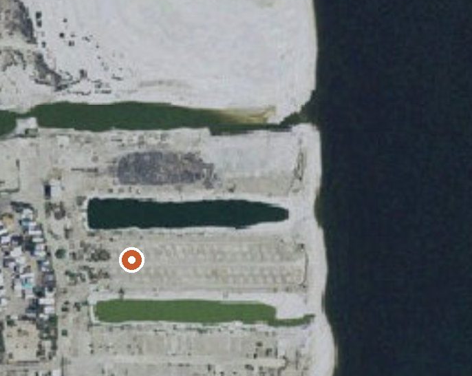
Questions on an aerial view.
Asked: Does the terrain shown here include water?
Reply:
Yes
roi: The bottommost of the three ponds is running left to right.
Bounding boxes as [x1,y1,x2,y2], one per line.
[96,298,315,326]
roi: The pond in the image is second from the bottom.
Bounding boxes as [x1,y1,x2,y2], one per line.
[87,198,289,229]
